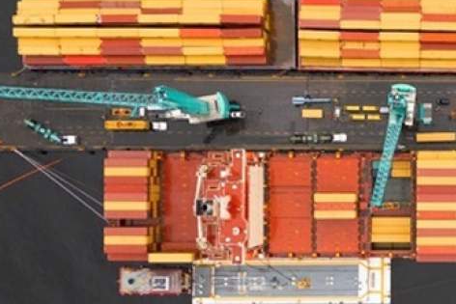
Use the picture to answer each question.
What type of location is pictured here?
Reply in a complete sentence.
It's a port.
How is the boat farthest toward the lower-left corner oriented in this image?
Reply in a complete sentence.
I'd say the boat farthest toward the lower-left corner is aligned from left to right in the picture.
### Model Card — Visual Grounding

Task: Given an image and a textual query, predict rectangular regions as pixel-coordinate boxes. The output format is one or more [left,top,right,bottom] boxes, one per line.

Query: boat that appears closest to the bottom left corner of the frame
[120,266,188,295]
